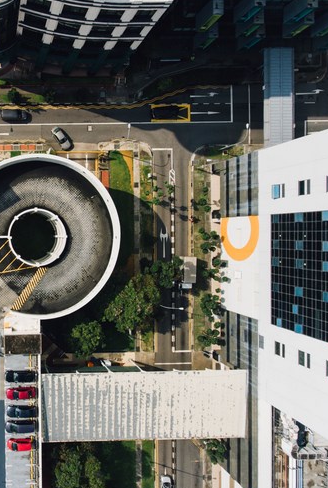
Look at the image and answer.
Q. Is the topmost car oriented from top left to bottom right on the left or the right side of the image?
left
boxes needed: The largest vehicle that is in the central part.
[177,256,197,290]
